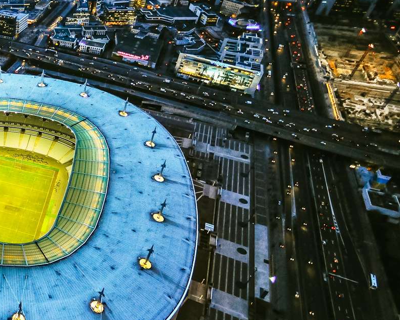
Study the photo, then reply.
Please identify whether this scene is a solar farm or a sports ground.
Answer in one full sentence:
The area seen from above is a sports ground.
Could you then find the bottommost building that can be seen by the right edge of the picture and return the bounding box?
[359,185,400,218]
